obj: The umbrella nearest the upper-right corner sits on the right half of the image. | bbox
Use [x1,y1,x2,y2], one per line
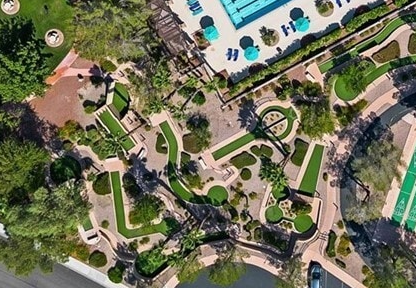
[294,16,311,32]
